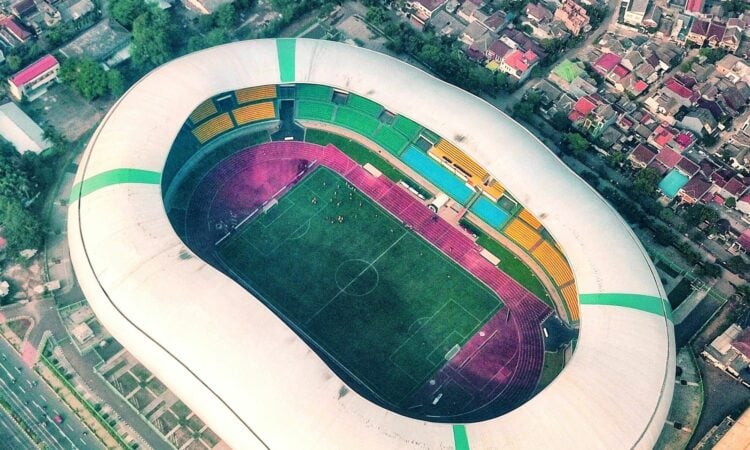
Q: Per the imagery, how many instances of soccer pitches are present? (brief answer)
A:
1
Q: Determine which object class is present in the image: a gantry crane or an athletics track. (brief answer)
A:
athletics track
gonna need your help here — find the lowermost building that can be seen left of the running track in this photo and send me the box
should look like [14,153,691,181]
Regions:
[64,320,93,347]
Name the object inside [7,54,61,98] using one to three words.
building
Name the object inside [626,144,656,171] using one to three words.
house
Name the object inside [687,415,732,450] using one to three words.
building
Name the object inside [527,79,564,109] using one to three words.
house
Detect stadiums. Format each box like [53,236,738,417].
[67,37,677,450]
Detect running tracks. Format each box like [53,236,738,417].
[179,136,554,423]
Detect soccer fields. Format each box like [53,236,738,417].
[213,166,502,407]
